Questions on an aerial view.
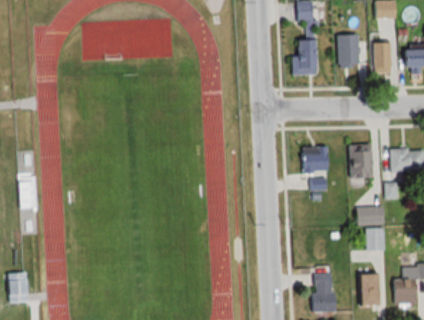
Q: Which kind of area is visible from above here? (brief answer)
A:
sports ground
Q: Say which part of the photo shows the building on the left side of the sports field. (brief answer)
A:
bottom left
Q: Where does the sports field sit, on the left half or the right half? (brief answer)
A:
left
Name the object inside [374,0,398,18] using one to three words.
building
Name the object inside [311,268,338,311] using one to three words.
house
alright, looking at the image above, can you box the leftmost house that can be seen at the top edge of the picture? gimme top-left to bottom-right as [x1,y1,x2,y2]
[291,0,318,75]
